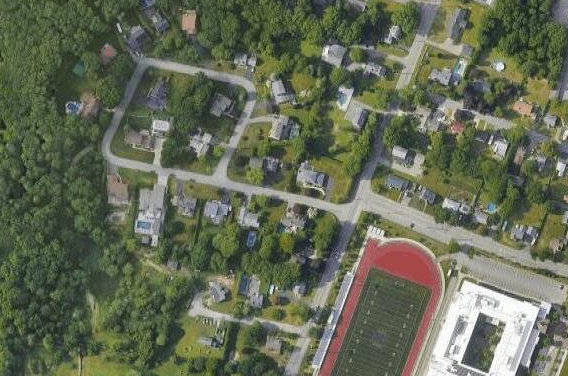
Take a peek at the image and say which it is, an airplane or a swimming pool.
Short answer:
swimming pool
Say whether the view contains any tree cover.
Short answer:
Yes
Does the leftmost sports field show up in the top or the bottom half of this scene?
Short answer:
bottom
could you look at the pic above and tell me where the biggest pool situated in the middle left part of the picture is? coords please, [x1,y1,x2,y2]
[135,215,154,234]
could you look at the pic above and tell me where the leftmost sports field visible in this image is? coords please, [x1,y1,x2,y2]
[332,268,429,376]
